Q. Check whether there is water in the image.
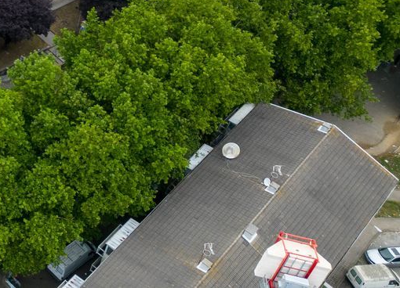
No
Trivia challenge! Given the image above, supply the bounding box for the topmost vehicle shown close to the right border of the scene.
[361,243,400,267]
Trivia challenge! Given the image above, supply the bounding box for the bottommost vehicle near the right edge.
[343,263,400,288]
